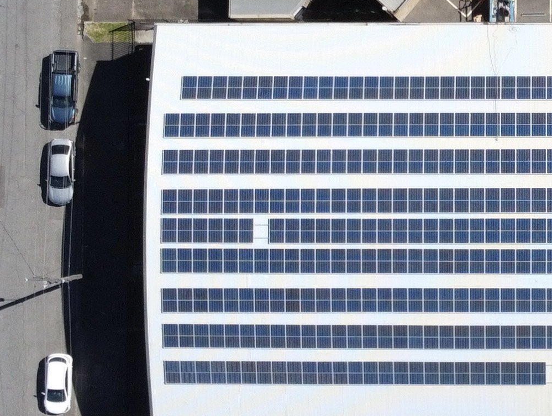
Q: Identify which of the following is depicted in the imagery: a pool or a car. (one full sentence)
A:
This aerial view contains a car.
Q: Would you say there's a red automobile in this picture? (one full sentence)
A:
No, the frame has no red automobile in it.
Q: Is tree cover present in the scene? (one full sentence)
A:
No, the picture contains no tree cover.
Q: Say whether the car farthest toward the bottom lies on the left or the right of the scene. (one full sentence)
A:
The car farthest toward the bottom sits on the left side.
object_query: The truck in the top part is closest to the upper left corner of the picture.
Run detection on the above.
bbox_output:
[47,52,81,128]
